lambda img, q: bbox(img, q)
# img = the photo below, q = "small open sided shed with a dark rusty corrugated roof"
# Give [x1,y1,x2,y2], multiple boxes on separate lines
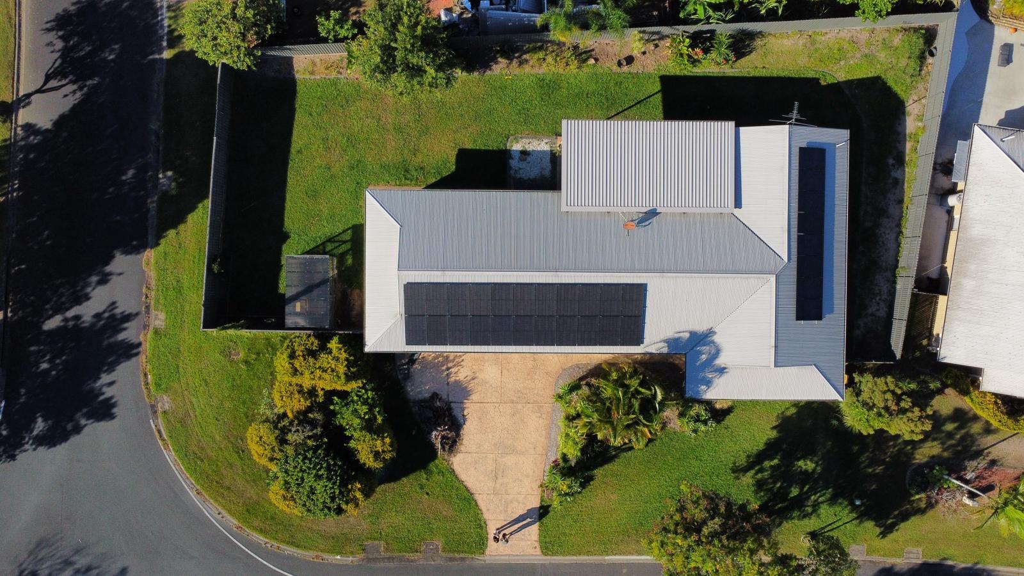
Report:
[285,255,340,328]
